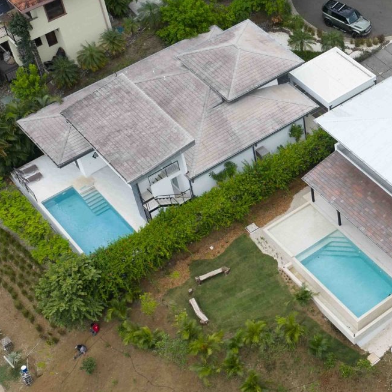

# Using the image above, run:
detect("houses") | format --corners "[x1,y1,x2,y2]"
[0,0,110,61]
[262,78,392,347]
[8,18,321,275]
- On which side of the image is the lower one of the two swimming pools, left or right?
right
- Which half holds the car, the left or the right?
right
